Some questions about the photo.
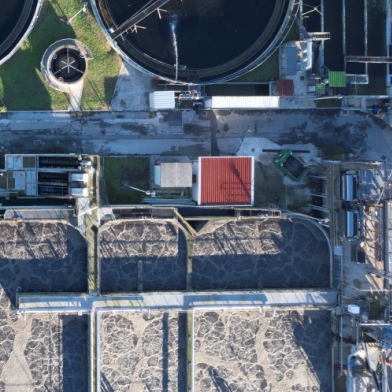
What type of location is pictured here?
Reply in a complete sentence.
This image shows an industrial area.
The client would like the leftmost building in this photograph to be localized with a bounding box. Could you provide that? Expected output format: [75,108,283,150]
[0,155,91,198]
